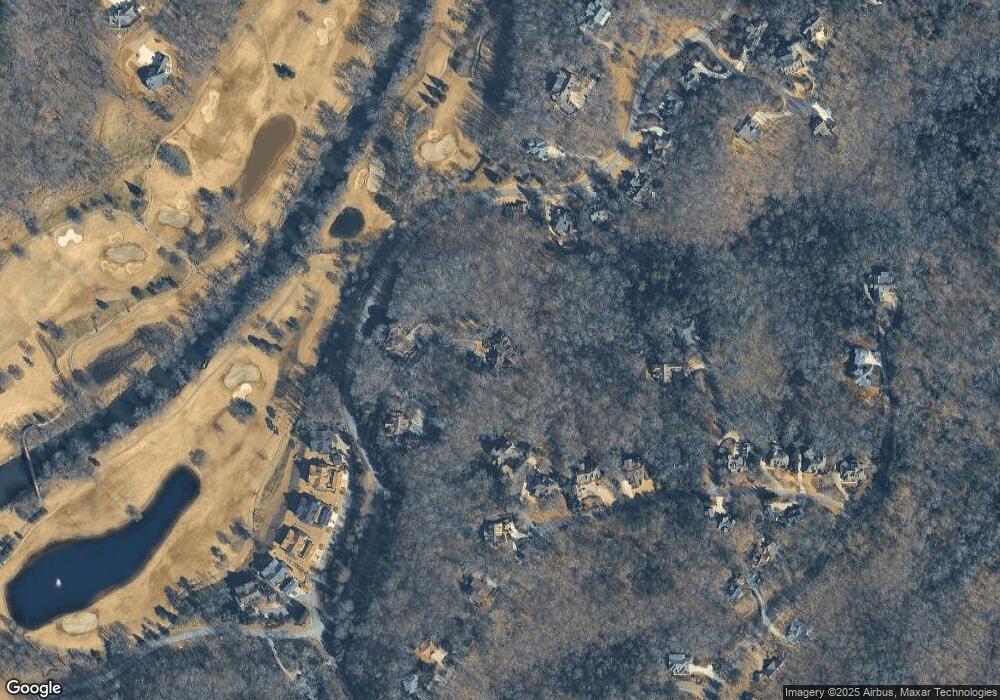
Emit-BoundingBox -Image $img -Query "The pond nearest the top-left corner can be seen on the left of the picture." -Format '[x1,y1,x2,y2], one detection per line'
[240,114,295,203]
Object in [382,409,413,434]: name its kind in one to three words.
house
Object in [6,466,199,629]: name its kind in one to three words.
pond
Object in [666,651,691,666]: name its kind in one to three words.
house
